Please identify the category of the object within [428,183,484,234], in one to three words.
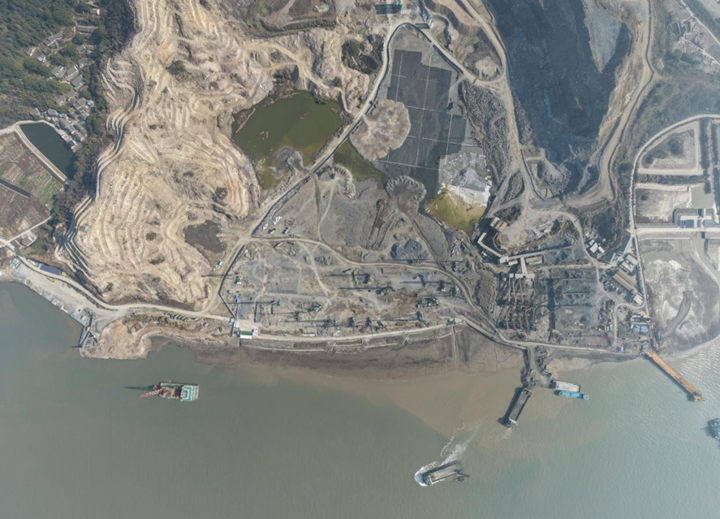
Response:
pond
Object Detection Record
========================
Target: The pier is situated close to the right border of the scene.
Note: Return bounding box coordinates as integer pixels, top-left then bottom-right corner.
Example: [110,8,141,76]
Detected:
[644,349,702,400]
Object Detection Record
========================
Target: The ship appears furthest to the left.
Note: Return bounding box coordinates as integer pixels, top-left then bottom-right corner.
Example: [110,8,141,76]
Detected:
[140,383,198,401]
